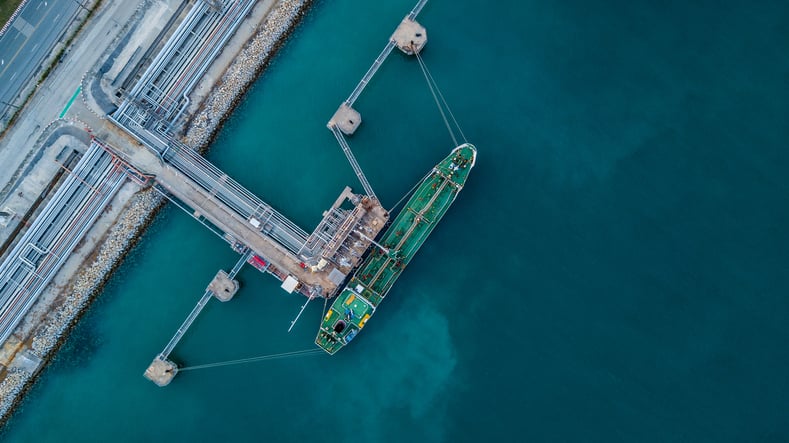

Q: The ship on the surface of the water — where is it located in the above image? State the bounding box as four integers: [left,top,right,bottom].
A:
[314,142,478,357]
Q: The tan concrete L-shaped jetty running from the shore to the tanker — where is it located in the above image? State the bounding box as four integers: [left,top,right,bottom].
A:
[146,143,389,299]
